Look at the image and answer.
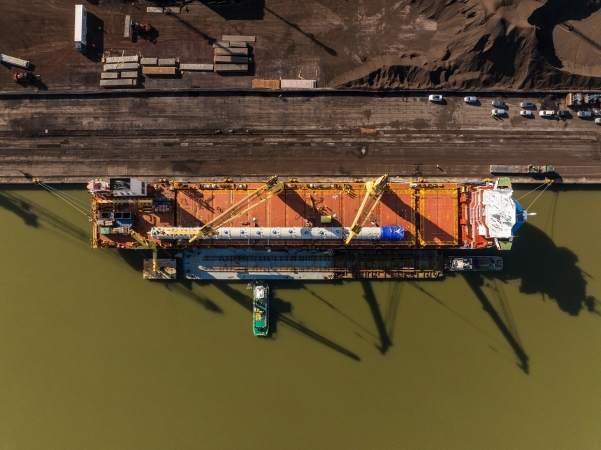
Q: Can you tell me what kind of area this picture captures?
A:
port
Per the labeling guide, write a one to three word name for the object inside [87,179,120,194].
boat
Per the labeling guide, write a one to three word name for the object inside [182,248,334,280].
ship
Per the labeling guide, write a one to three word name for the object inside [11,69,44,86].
work vehicle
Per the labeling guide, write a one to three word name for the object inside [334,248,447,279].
ship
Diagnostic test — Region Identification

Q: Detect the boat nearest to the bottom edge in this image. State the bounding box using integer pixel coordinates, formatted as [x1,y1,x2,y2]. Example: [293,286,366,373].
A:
[252,285,269,339]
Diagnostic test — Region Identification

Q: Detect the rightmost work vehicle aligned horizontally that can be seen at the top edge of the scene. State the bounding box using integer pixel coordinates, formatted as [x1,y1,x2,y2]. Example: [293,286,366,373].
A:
[123,17,158,36]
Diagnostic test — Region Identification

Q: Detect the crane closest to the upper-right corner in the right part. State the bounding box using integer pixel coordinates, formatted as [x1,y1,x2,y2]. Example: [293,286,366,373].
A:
[344,172,394,249]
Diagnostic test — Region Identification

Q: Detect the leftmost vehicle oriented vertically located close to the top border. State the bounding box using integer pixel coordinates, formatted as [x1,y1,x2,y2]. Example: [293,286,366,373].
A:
[75,5,89,56]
